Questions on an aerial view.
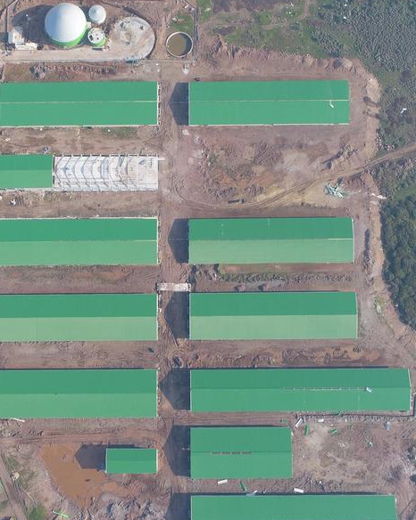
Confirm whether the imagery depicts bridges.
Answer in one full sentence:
No, no bridge is visible in the view.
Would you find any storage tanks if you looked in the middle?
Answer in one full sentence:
No, looking in the middle, there is no storage tank.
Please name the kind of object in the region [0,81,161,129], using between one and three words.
shed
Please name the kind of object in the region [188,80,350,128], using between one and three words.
shed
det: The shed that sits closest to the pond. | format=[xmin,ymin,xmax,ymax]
[106,448,159,474]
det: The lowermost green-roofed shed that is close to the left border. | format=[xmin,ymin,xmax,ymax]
[0,369,161,419]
